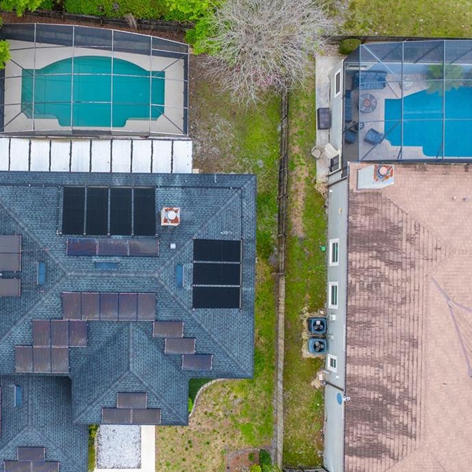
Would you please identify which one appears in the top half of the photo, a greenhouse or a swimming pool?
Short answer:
swimming pool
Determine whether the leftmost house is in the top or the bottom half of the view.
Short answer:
bottom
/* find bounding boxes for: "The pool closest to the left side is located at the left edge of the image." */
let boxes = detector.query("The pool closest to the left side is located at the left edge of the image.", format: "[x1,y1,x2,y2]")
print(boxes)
[17,51,169,131]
